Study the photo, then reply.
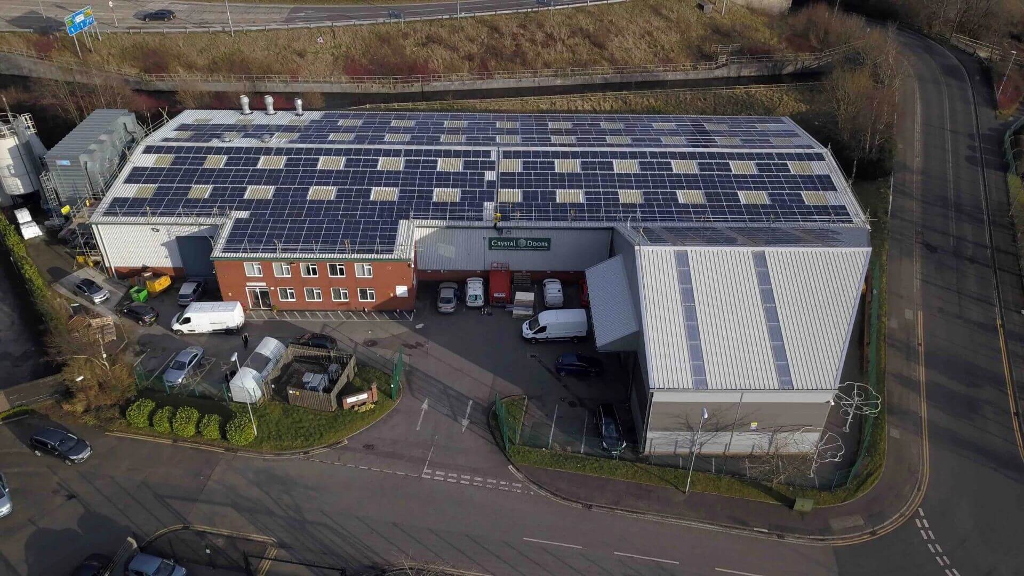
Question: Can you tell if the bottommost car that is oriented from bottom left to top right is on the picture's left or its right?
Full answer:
The bottommost car that is oriented from bottom left to top right sits on the left side.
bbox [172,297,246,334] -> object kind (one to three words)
van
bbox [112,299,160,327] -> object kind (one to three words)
car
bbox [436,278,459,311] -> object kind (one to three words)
car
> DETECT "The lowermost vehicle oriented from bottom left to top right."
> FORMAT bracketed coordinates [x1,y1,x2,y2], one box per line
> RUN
[160,342,207,384]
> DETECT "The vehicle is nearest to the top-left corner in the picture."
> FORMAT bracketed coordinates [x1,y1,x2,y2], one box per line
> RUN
[143,7,176,22]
